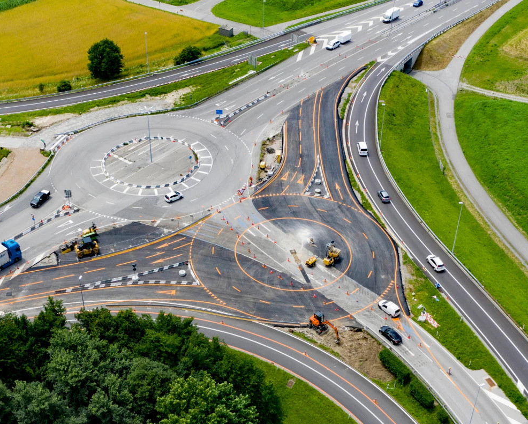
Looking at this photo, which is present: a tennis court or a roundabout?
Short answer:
roundabout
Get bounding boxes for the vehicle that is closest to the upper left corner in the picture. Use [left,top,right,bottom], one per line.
[30,191,50,207]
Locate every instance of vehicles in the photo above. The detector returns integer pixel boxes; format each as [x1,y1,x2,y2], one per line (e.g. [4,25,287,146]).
[376,191,391,204]
[383,6,400,21]
[308,313,333,343]
[425,256,446,272]
[326,39,340,50]
[357,144,366,156]
[377,301,401,319]
[378,327,404,345]
[0,245,20,270]
[413,0,424,7]
[322,247,343,266]
[30,191,50,207]
[82,231,98,241]
[73,240,101,260]
[164,192,183,203]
